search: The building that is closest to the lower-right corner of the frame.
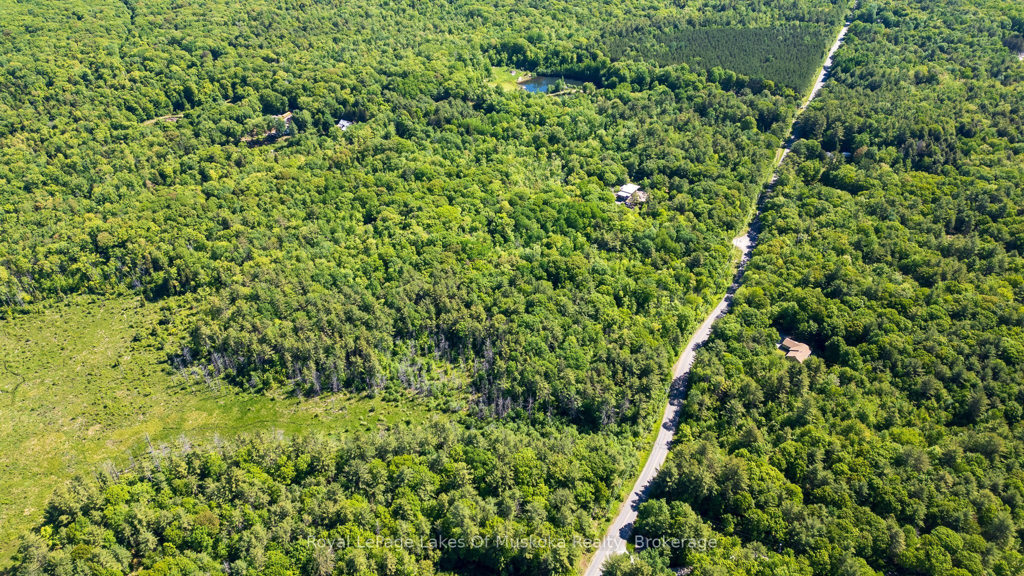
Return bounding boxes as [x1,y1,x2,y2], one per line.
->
[782,341,812,367]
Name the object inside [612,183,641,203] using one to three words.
house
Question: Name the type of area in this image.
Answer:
forest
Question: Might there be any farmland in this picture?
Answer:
No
